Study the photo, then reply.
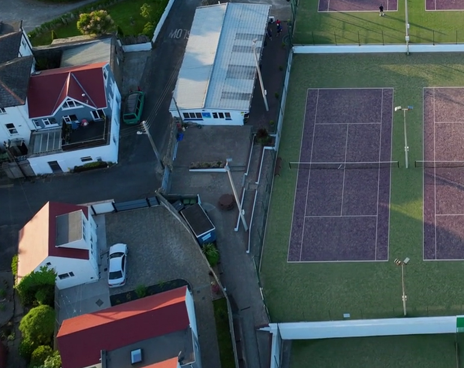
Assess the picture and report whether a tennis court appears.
Yes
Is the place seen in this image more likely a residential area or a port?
residential area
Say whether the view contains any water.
No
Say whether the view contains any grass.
Yes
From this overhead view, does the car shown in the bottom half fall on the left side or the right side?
left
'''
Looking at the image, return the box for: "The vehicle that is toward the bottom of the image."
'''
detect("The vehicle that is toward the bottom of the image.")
[106,245,127,287]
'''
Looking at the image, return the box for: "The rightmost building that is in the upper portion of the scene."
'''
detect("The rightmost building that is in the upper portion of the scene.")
[169,1,270,125]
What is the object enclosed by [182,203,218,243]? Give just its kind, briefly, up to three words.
shed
